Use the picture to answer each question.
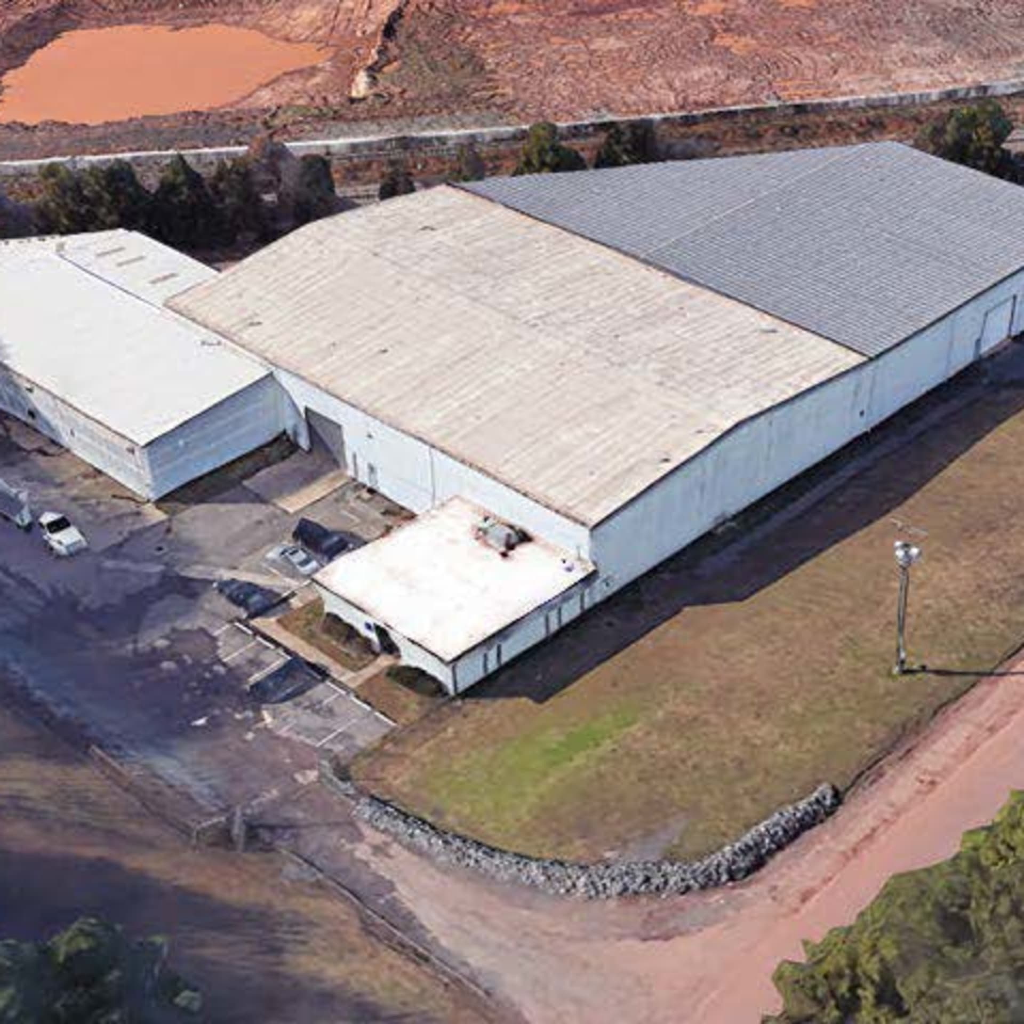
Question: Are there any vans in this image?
Yes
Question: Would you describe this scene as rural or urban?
urban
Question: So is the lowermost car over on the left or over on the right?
left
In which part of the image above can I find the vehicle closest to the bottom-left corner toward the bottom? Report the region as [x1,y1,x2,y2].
[249,662,308,700]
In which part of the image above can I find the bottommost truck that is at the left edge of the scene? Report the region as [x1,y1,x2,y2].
[33,509,87,559]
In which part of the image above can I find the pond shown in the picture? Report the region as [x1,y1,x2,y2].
[0,24,337,126]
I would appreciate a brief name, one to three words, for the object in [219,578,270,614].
car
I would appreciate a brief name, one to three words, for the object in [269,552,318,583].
car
